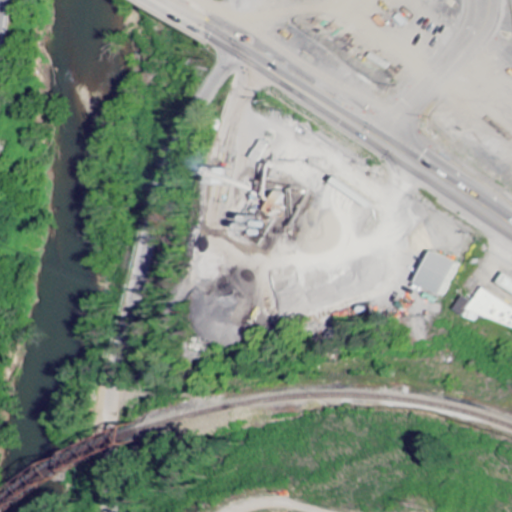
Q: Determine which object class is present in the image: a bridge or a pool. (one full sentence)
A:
Visible in the photo is a bridge.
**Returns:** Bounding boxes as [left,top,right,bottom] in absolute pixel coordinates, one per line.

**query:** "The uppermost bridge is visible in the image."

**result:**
[128,0,212,42]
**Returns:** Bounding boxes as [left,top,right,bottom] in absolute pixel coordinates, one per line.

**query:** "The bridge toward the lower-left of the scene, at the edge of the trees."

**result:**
[0,422,127,504]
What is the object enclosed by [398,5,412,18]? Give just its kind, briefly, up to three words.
vehicle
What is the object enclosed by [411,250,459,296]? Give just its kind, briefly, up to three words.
shed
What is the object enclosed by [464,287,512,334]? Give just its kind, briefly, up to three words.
building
